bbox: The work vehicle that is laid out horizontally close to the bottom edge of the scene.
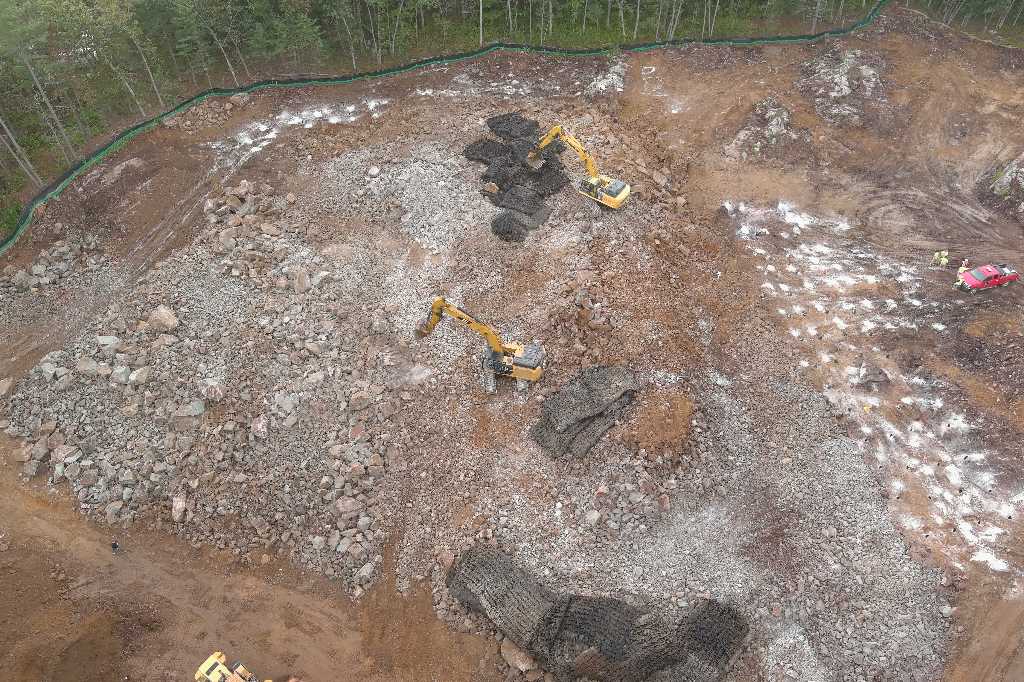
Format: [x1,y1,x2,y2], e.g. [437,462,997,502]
[195,651,265,682]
